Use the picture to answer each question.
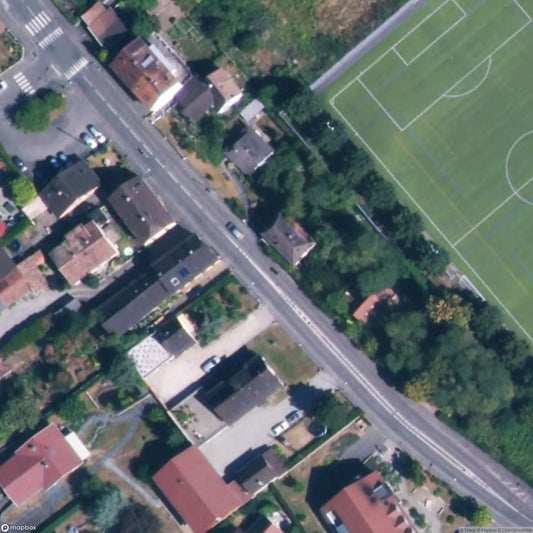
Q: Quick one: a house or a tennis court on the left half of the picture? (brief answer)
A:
house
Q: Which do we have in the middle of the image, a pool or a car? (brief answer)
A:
car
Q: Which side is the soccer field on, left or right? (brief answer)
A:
right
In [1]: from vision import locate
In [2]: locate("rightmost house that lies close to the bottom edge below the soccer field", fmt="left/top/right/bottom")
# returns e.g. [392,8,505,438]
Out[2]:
[321,471,416,533]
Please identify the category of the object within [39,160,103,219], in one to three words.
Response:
house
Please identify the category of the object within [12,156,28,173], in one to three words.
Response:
car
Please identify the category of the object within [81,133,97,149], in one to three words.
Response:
car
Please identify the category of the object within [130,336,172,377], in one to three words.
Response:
shed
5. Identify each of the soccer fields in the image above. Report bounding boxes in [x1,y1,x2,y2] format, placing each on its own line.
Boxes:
[314,0,533,361]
